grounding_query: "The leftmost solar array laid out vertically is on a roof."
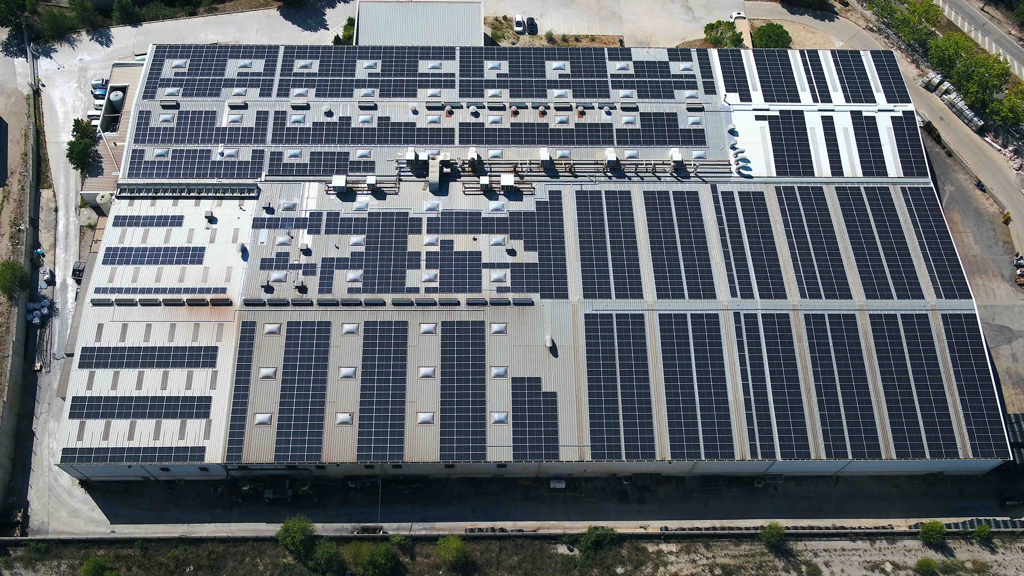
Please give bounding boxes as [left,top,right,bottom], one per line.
[226,319,257,464]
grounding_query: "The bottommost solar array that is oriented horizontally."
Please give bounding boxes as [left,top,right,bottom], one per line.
[60,445,206,465]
